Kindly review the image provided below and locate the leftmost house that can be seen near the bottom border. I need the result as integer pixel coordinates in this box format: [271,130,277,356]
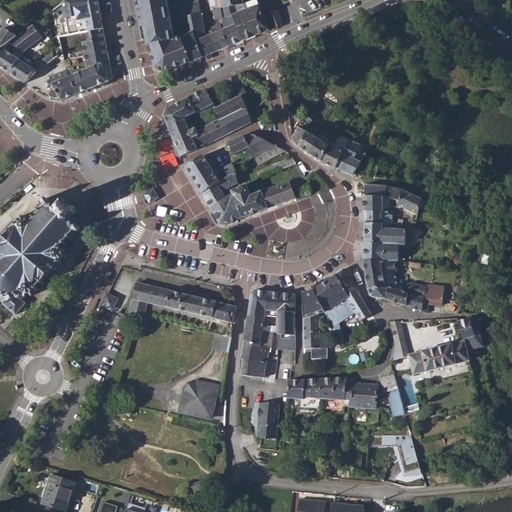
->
[38,474,74,512]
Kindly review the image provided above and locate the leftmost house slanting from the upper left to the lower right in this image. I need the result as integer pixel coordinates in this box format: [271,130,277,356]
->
[0,44,35,82]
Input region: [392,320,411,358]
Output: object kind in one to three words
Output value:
shed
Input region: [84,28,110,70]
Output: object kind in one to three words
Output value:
house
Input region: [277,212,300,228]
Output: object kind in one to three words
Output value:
fountain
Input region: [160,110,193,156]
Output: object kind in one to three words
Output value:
building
